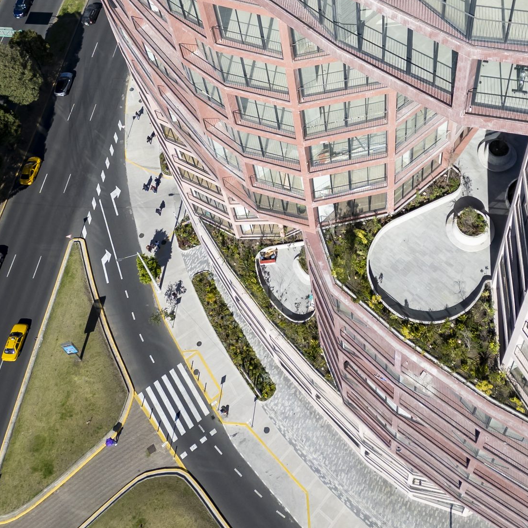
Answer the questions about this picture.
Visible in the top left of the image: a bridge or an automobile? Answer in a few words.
automobile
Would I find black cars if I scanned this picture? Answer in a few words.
Yes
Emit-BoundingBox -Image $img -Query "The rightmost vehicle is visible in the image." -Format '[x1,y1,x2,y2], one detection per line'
[79,2,99,22]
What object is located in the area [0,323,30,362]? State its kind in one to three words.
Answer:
car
